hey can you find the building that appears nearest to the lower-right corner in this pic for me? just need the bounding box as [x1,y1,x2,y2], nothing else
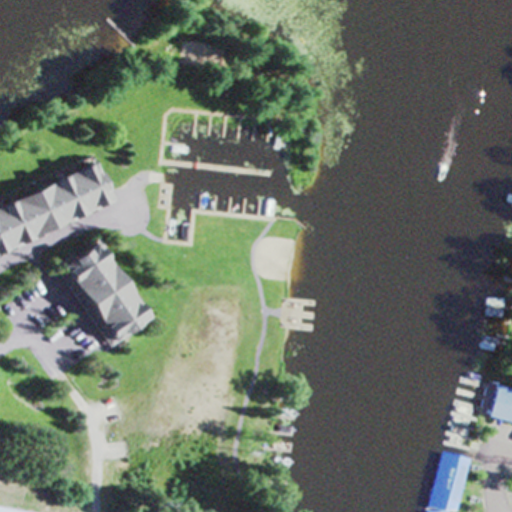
[428,451,472,512]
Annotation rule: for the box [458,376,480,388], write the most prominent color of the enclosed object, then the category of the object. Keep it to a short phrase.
white boat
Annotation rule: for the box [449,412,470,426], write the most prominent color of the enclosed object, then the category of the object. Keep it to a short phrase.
white boat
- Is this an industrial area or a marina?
marina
